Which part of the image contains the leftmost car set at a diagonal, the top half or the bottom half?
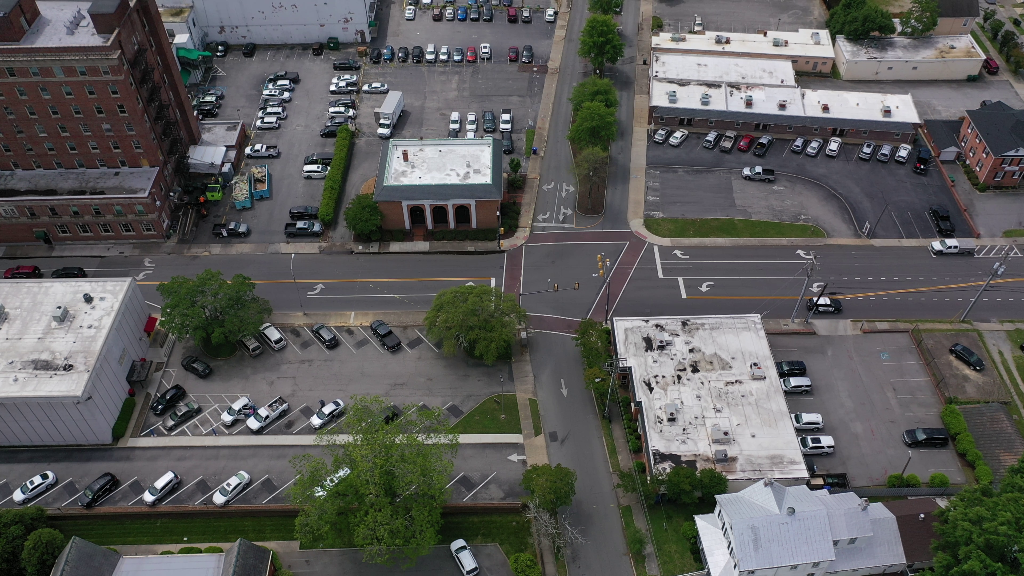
bottom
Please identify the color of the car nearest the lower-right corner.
black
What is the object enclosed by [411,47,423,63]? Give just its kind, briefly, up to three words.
vehicle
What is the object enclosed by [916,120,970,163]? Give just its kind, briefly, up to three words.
building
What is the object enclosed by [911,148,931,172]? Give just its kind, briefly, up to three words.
vehicle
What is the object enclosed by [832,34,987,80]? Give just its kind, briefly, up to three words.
building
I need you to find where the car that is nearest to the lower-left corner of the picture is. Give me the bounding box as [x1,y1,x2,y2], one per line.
[13,469,59,507]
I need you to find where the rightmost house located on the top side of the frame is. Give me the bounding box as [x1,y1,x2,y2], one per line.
[958,97,1024,182]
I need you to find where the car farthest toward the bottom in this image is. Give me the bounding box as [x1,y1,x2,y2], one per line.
[447,536,483,576]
